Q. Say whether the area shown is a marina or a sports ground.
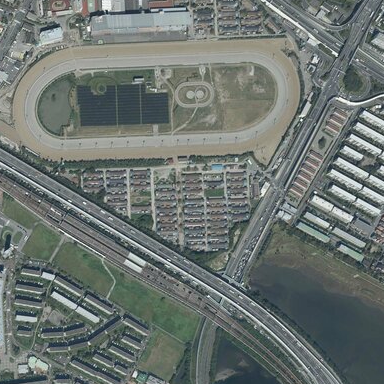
sports ground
